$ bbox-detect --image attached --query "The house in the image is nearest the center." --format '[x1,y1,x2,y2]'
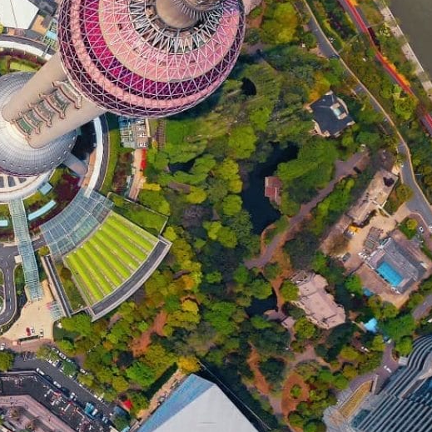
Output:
[261,177,282,202]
